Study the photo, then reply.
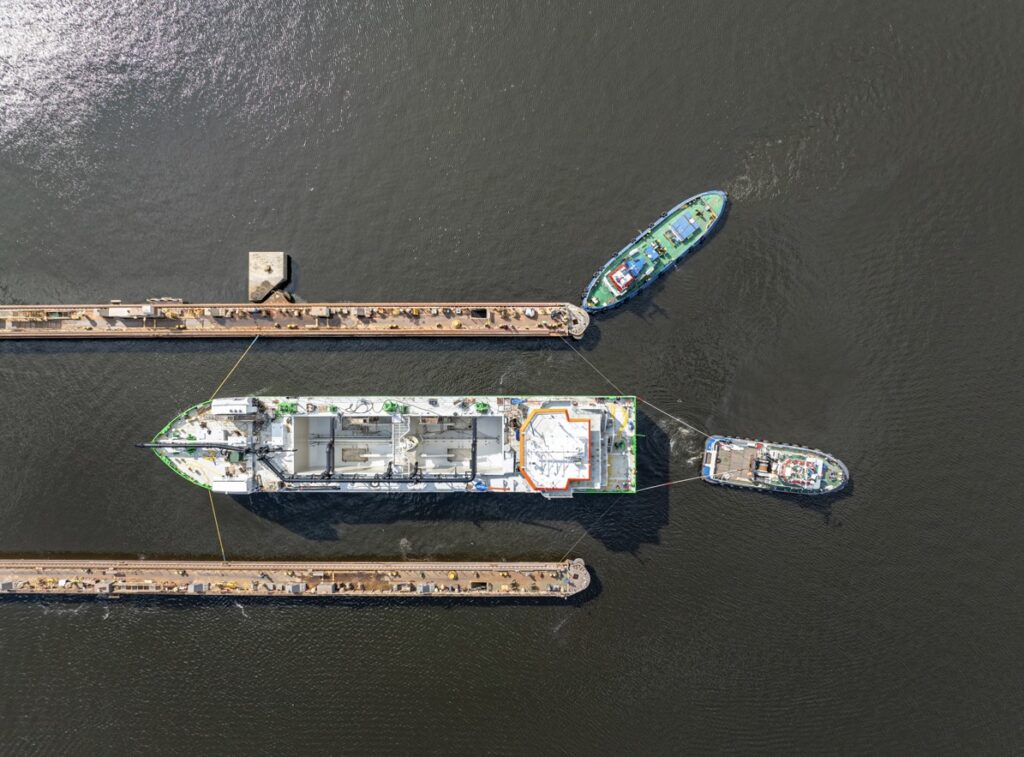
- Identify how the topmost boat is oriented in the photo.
diagonally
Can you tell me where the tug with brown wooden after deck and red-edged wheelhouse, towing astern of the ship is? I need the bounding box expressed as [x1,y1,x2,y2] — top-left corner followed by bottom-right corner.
[700,434,849,496]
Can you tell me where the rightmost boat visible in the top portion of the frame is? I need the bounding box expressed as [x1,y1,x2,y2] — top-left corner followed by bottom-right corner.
[576,192,728,317]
